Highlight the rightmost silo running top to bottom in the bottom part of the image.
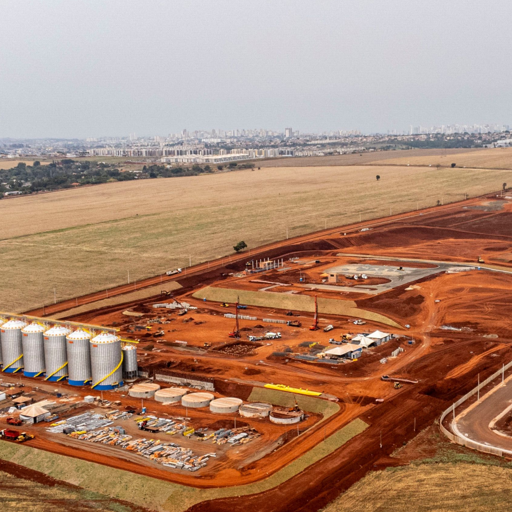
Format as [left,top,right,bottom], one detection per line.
[120,345,138,380]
